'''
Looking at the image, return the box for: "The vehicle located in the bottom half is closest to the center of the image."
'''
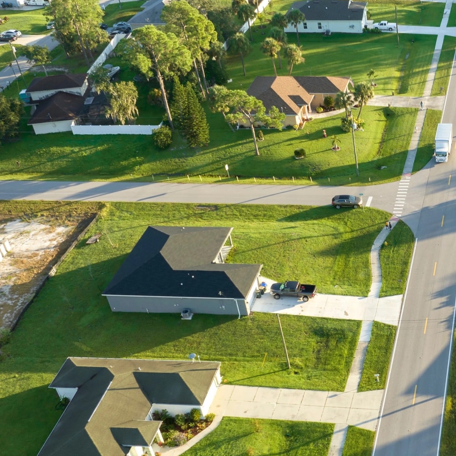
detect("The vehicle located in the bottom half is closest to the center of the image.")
[268,279,316,300]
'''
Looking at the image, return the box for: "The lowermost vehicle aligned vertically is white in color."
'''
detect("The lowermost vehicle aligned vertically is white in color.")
[433,125,452,160]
